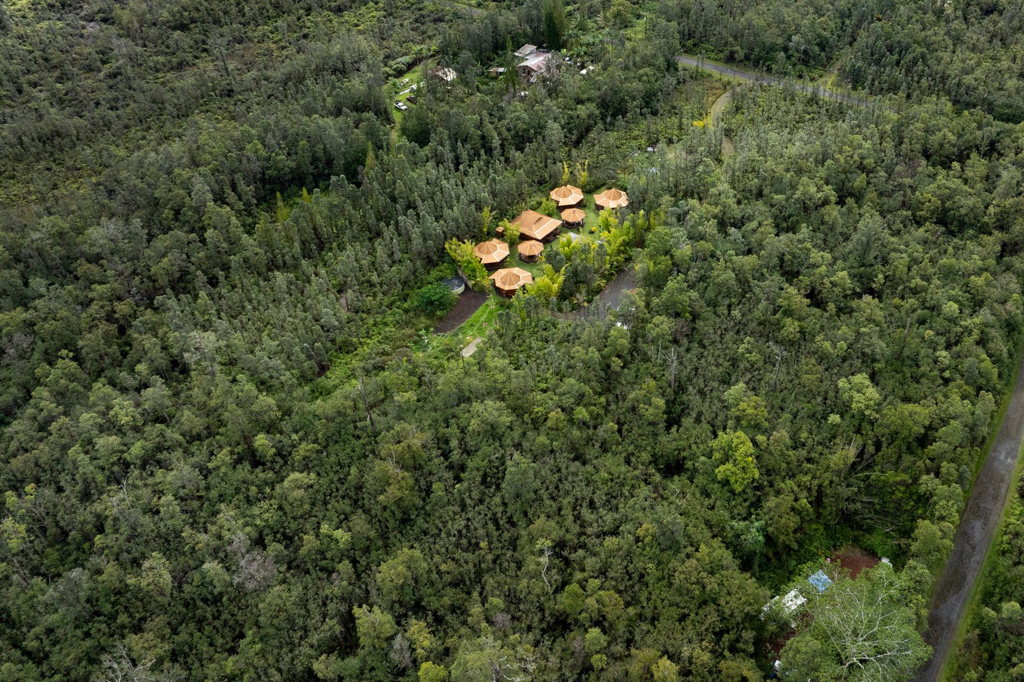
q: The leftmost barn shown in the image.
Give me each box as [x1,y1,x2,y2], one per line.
[428,66,457,85]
